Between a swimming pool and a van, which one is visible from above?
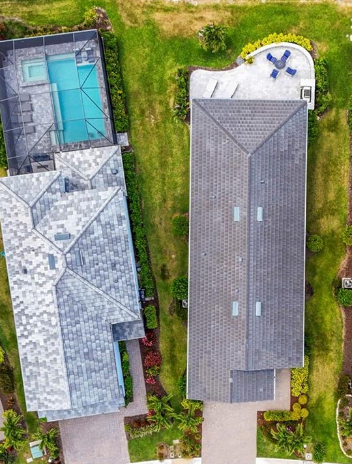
swimming pool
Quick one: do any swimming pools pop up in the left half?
Yes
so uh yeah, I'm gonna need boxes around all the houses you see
[0,144,147,420]
[186,98,309,404]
